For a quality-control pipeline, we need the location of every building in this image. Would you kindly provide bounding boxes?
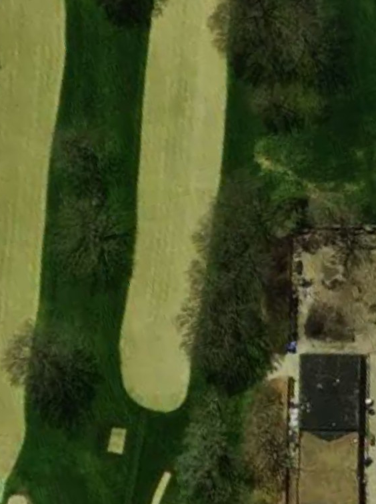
[299,354,359,504]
